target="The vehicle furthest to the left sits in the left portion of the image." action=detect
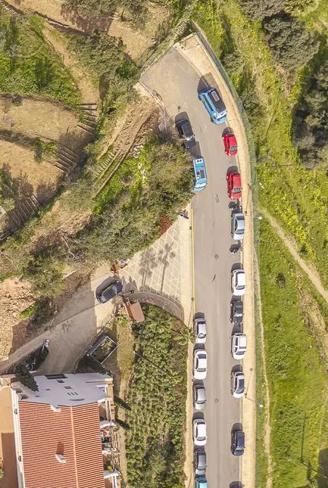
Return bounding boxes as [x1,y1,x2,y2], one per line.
[97,280,123,301]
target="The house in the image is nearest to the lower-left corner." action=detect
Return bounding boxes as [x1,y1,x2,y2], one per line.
[0,373,115,488]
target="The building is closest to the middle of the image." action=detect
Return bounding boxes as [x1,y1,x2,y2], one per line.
[118,294,146,321]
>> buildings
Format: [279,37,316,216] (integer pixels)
[118,294,146,321]
[0,373,115,488]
